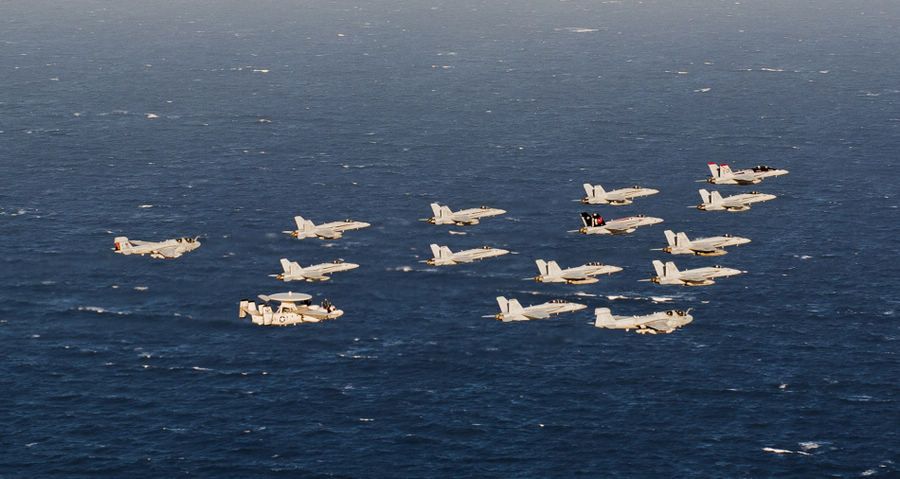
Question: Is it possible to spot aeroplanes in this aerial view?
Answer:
Yes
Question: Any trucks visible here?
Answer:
No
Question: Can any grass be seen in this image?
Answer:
No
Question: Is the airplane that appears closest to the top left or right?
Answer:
right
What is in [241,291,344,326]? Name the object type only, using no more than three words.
airplane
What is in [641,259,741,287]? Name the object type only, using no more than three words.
airplane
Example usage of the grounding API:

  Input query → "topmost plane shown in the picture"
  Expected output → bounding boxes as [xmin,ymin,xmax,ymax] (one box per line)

[696,162,789,185]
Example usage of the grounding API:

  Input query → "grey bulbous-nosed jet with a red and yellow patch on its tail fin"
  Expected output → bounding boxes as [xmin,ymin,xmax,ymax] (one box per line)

[110,234,200,258]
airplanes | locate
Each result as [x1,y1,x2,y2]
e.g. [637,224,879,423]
[110,234,200,258]
[696,162,789,185]
[418,204,506,226]
[526,258,623,285]
[689,188,775,212]
[587,306,693,336]
[573,183,659,206]
[283,216,370,238]
[641,259,741,287]
[487,296,587,320]
[241,291,344,326]
[269,259,359,281]
[655,229,751,255]
[569,211,664,235]
[418,243,509,265]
